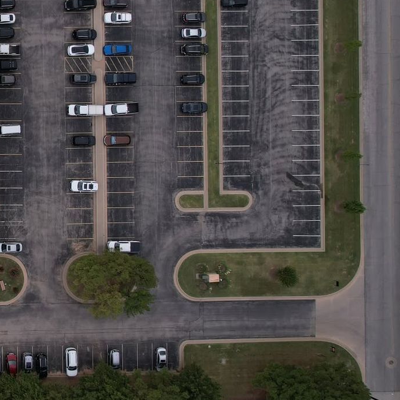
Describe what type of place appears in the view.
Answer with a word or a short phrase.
parking lot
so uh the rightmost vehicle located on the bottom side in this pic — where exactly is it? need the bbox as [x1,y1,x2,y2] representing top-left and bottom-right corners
[154,345,168,373]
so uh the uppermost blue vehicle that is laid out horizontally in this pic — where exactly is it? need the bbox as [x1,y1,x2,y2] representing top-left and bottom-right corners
[103,42,131,56]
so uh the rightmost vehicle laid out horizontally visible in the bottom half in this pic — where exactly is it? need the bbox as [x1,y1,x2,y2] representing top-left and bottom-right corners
[105,240,141,254]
